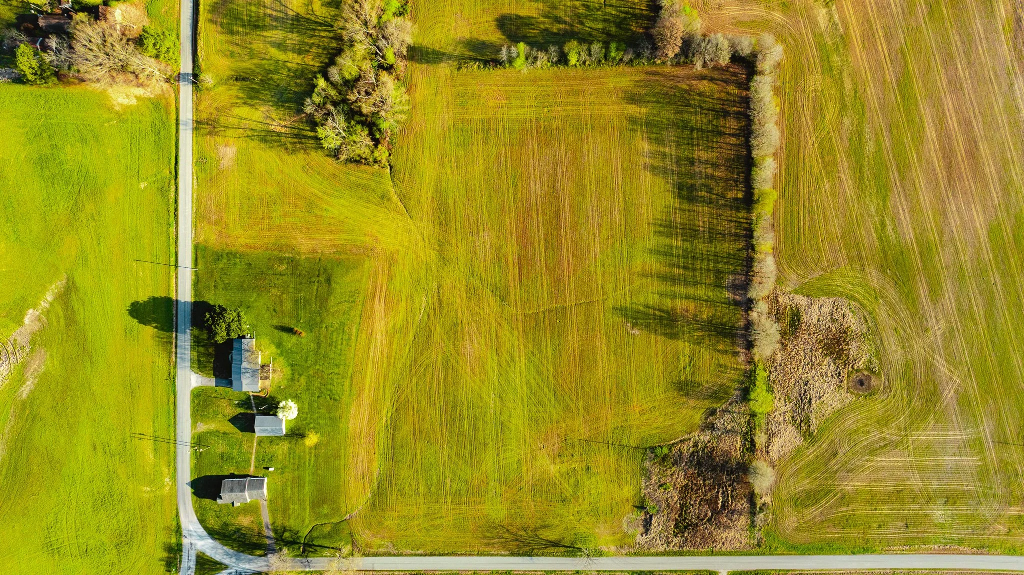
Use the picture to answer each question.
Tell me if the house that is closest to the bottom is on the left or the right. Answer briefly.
left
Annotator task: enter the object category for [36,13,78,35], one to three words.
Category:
shed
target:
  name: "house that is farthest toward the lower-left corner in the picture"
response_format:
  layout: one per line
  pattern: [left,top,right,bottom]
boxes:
[219,476,269,507]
